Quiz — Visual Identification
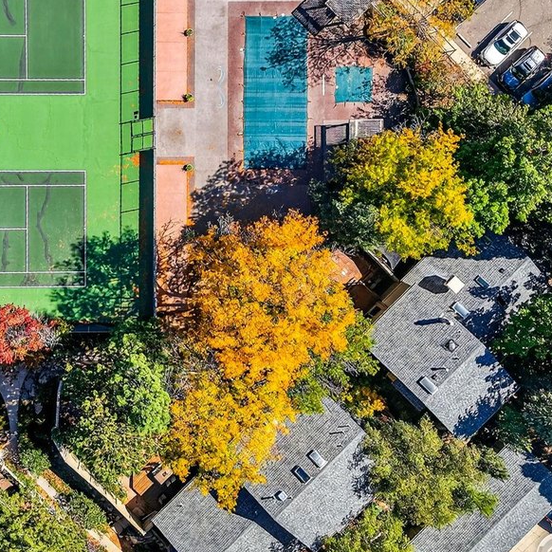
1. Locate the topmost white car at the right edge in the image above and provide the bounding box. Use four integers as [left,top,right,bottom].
[477,20,528,68]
